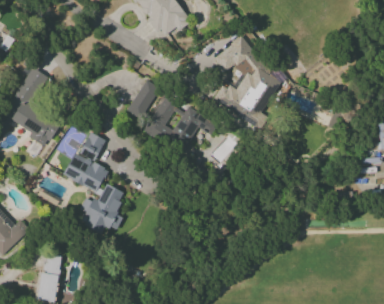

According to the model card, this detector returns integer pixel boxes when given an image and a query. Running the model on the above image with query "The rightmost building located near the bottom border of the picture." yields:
[38,256,61,302]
